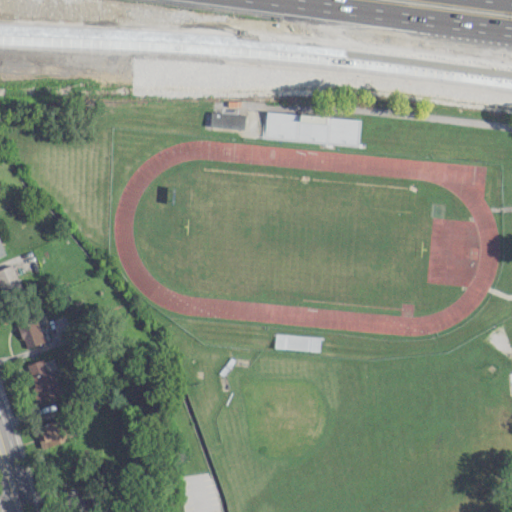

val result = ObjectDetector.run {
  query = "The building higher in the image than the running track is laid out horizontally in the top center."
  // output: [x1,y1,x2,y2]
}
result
[212,113,246,130]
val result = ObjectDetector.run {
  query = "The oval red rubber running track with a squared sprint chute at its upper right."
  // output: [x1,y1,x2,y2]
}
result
[114,142,498,335]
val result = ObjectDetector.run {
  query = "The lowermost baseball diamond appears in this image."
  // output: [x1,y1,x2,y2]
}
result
[245,376,327,457]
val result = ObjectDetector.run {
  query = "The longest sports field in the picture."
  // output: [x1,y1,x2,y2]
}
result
[133,160,476,316]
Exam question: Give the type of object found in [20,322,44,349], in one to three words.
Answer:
house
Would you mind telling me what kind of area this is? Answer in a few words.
sports ground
